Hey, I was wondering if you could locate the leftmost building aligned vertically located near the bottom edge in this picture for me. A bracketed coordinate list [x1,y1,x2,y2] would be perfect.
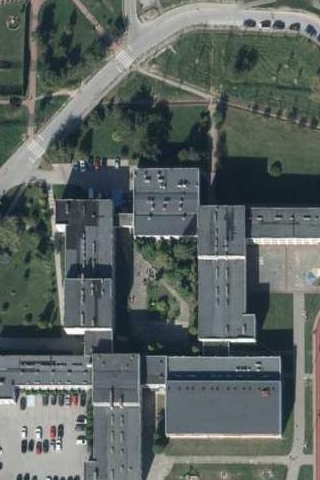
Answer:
[84,353,141,480]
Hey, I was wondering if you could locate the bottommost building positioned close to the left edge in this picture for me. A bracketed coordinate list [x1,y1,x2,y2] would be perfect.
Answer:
[0,356,92,402]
